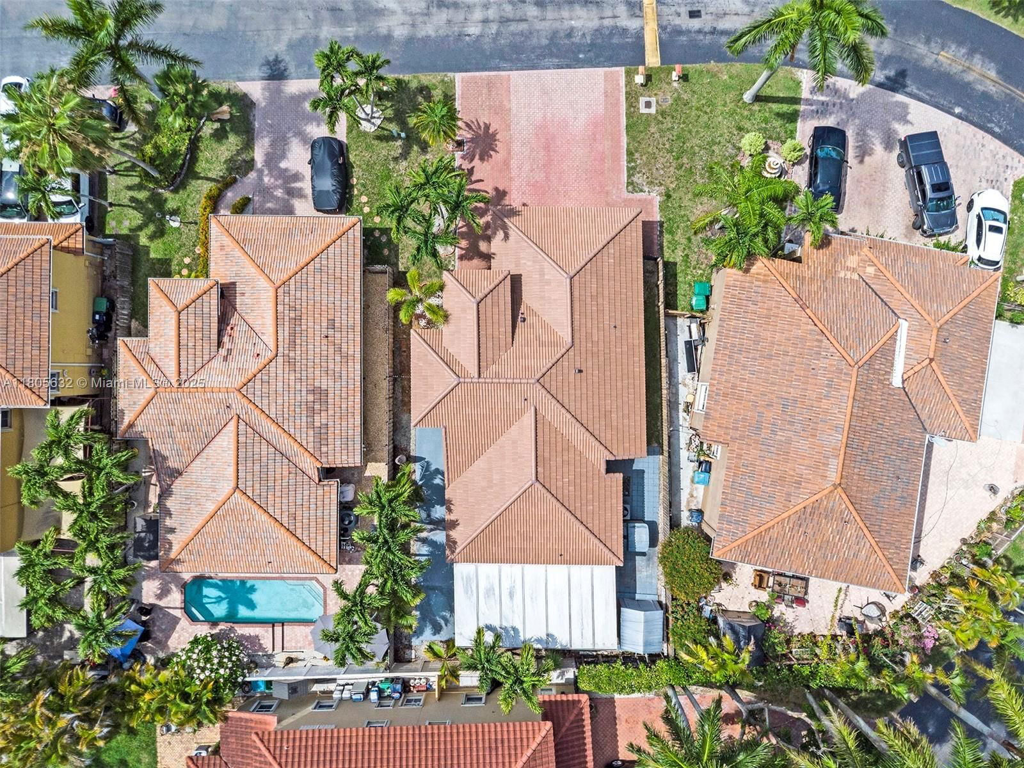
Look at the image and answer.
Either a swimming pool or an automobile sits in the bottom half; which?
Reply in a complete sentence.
The one visible in the bottom half is a swimming pool.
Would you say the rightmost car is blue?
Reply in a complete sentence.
No, from above the rightmost car looks white.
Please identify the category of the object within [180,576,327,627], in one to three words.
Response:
swimming pool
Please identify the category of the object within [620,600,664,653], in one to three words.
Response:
shed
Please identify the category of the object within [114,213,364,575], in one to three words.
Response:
house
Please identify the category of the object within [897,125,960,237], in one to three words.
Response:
truck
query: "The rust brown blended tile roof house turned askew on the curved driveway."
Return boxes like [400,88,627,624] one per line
[689,232,1004,595]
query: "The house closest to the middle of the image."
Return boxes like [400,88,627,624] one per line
[409,204,647,568]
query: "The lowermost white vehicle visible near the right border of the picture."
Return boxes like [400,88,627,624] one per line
[966,191,1014,269]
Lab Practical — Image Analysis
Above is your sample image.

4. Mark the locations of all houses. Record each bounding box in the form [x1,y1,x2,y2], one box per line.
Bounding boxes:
[0,220,108,557]
[114,213,364,575]
[689,232,1004,595]
[183,683,594,768]
[409,204,647,568]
